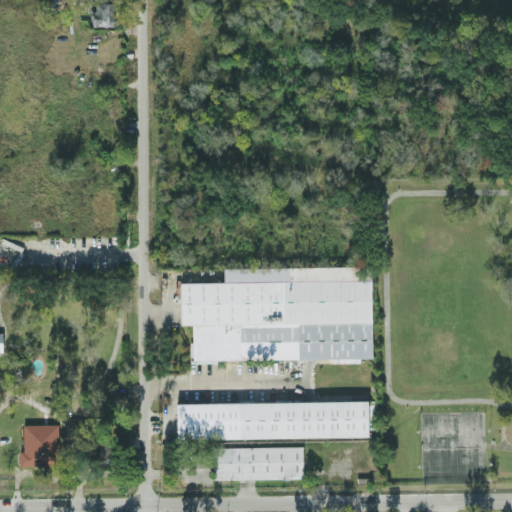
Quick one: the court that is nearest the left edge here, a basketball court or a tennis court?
tennis court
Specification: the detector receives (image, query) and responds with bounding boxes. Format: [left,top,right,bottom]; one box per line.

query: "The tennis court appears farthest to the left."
[422,412,487,485]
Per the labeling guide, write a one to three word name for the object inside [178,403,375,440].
shed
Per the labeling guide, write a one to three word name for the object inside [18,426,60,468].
house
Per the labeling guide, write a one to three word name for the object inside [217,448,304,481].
shed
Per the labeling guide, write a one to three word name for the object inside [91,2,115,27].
house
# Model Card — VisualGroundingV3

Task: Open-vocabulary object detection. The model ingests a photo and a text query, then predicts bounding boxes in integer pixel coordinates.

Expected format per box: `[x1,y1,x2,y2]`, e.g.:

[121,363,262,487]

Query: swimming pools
[30,354,48,380]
